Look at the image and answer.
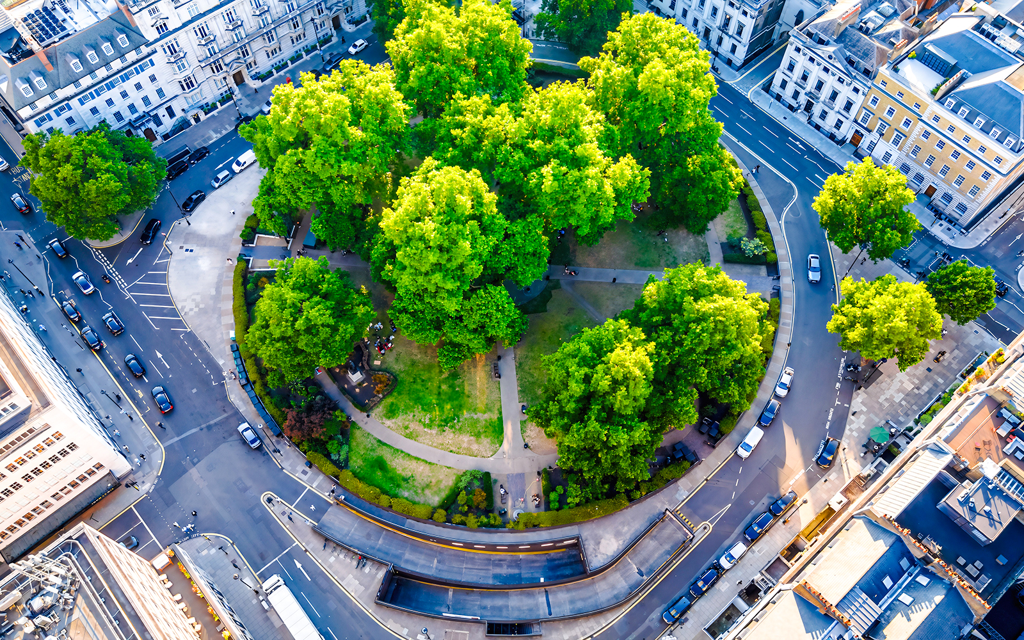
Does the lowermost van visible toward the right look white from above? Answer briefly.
No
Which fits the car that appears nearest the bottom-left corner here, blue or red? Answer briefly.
blue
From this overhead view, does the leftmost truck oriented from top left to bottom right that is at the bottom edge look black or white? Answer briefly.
white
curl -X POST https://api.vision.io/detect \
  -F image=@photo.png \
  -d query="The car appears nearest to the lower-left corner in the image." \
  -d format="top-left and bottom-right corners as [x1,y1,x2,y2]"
[118,530,144,550]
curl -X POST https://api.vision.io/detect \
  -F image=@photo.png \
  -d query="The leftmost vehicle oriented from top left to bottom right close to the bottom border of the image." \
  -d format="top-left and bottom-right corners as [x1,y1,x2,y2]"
[262,569,329,640]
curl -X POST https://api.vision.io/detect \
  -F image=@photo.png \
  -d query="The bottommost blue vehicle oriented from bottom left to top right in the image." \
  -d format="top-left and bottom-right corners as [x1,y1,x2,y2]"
[660,590,695,627]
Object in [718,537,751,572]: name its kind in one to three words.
van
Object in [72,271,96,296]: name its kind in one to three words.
car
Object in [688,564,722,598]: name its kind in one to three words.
car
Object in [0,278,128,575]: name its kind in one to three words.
building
